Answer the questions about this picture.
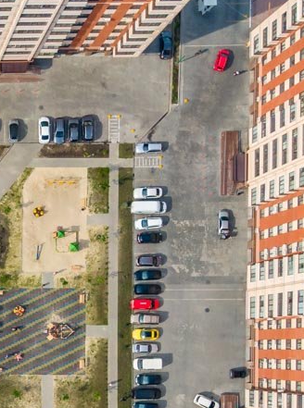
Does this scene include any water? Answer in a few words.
No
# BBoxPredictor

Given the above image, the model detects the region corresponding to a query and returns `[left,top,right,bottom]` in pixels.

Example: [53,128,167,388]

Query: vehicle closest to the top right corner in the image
[214,48,230,73]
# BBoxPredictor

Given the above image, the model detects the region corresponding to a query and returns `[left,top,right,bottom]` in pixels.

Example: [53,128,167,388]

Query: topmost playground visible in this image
[23,167,88,273]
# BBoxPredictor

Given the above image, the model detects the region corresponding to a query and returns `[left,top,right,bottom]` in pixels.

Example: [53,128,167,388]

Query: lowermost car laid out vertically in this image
[217,209,232,241]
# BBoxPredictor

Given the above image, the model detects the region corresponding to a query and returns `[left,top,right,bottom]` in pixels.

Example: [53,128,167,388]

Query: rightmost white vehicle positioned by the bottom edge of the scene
[192,394,220,408]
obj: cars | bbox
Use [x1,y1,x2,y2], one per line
[136,231,162,244]
[9,119,21,143]
[131,387,161,400]
[134,268,162,281]
[38,117,51,144]
[136,141,162,154]
[131,328,160,341]
[135,373,162,386]
[68,119,80,142]
[136,254,162,267]
[132,342,157,353]
[217,209,232,241]
[83,117,96,141]
[53,117,66,144]
[130,313,160,326]
[134,283,163,295]
[228,367,253,379]
[132,186,163,199]
[160,31,174,59]
[192,394,220,408]
[130,297,160,310]
[214,48,230,73]
[132,400,159,408]
[134,216,164,229]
